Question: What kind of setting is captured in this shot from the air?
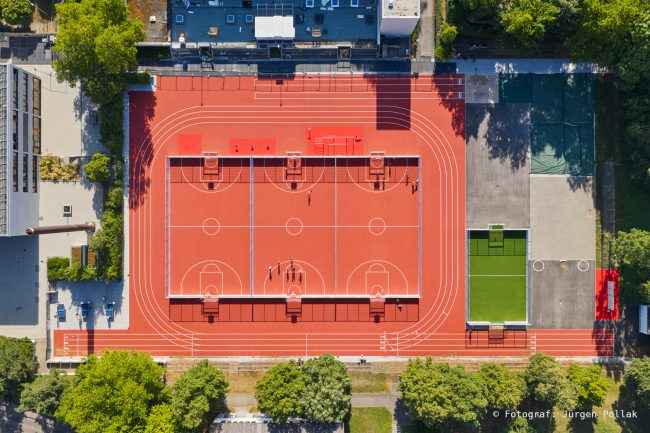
sports ground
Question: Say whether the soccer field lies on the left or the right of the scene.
right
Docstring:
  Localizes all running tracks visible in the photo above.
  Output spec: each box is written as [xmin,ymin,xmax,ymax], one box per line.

[54,74,614,357]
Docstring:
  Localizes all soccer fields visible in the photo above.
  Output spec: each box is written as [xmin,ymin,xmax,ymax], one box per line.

[468,230,526,321]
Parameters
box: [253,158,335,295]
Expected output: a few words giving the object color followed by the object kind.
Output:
red basketball court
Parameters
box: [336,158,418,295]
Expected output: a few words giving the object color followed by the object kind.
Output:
red basketball court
